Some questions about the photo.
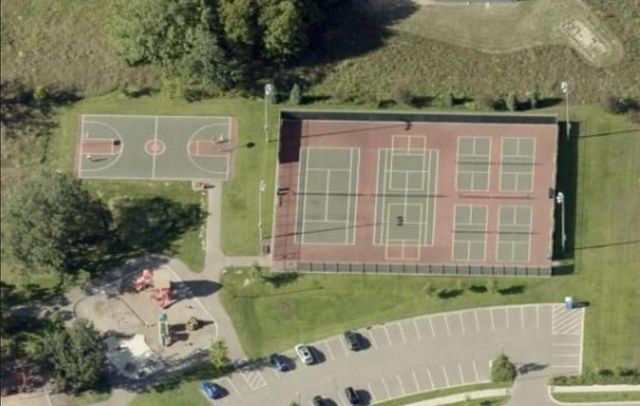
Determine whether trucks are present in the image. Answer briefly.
No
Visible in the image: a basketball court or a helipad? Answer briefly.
basketball court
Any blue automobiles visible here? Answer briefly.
Yes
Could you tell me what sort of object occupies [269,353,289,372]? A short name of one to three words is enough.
car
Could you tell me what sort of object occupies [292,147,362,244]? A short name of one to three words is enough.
tennis court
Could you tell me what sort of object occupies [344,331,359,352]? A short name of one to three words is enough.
car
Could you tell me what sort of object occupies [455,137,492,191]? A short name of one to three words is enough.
sports court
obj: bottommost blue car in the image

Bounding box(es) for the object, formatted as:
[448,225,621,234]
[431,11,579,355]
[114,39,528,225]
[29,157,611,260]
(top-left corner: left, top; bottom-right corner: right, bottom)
[203,380,222,401]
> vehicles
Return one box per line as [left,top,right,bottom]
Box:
[203,380,222,401]
[312,394,326,406]
[343,384,359,406]
[296,345,314,367]
[344,331,359,352]
[269,353,289,372]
